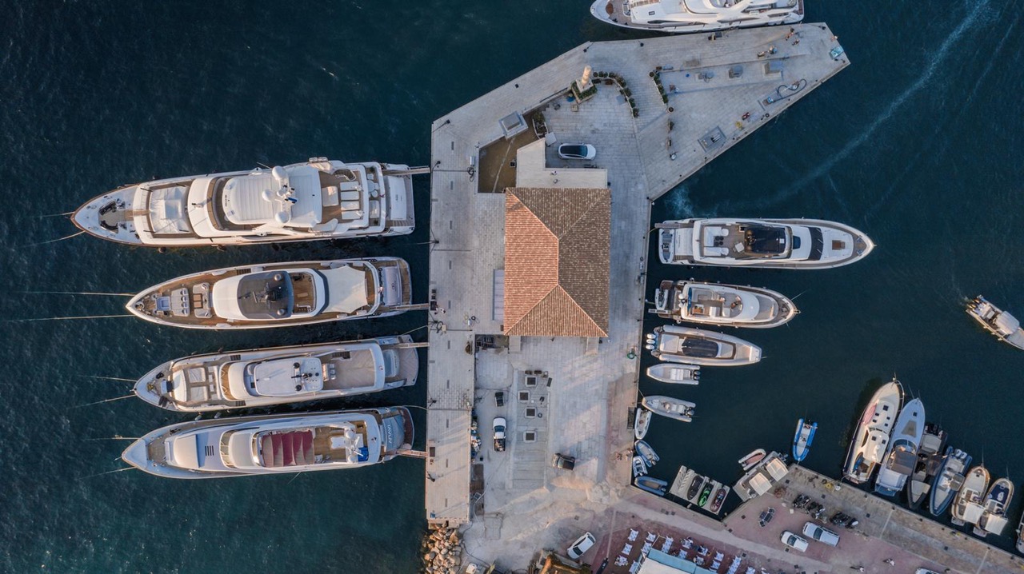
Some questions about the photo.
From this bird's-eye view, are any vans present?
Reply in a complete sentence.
Yes, the frame does contain a van.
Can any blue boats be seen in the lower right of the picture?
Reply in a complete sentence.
Yes, I can see a blue boat in the lower right of the picture.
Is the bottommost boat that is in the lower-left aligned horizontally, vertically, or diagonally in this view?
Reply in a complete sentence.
The bottommost boat that is in the lower-left has been laid out horizontally relative to the frame.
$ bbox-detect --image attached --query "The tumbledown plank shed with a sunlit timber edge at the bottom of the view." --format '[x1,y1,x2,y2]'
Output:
[528,545,596,574]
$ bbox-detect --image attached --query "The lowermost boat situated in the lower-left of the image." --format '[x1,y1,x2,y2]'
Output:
[92,405,428,483]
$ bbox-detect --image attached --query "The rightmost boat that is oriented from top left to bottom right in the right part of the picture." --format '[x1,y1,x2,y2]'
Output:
[962,295,1024,349]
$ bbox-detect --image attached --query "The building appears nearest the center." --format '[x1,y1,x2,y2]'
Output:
[503,187,612,353]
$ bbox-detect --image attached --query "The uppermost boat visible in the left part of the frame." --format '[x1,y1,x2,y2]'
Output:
[29,157,431,252]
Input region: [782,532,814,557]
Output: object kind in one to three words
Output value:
car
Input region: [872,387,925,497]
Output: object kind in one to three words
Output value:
boat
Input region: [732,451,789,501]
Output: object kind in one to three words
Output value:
vessel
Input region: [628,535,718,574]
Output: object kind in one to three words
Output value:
building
